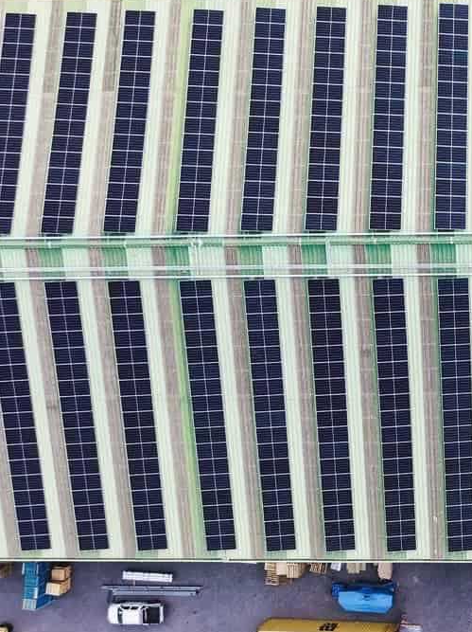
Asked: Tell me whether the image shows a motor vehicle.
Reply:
Yes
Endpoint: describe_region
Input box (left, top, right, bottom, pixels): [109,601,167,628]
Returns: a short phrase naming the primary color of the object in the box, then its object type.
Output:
white truck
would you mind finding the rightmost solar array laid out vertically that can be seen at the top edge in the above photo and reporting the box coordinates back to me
[434,2,471,231]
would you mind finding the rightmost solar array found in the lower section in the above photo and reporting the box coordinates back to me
[437,276,472,552]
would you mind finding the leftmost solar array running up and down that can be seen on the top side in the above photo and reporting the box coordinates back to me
[0,12,37,237]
